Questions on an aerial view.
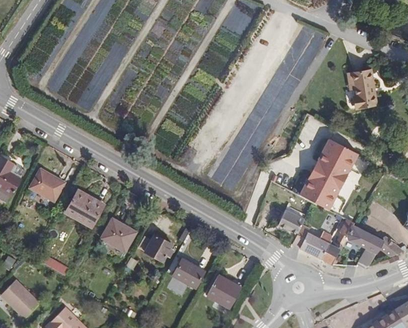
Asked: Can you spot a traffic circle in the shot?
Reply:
Yes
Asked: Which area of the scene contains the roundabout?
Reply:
bottom right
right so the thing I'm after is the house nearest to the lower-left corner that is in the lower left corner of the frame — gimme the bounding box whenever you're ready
[0,280,38,319]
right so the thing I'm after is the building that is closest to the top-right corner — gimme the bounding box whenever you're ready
[350,69,376,111]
